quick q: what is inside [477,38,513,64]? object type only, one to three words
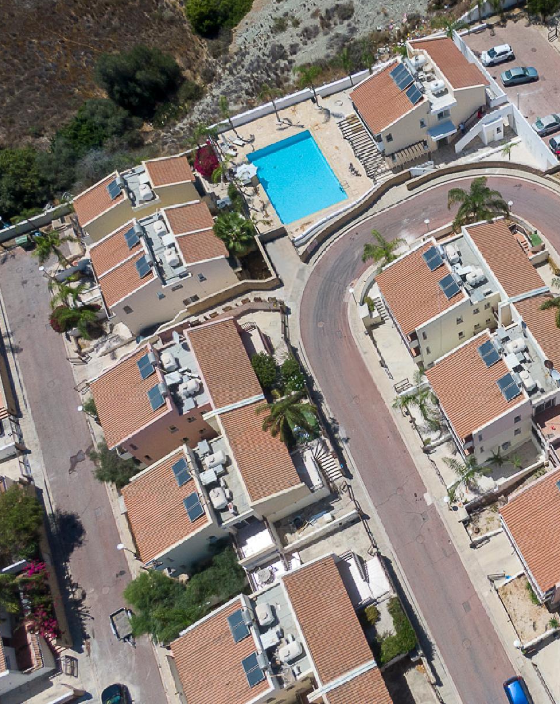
car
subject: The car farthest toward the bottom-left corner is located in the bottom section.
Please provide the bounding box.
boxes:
[95,673,126,704]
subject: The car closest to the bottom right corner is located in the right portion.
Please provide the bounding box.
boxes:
[498,661,537,704]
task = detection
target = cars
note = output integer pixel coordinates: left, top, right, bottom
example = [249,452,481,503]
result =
[499,61,538,82]
[95,673,126,704]
[477,38,513,64]
[544,130,560,152]
[498,661,537,704]
[530,108,560,133]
